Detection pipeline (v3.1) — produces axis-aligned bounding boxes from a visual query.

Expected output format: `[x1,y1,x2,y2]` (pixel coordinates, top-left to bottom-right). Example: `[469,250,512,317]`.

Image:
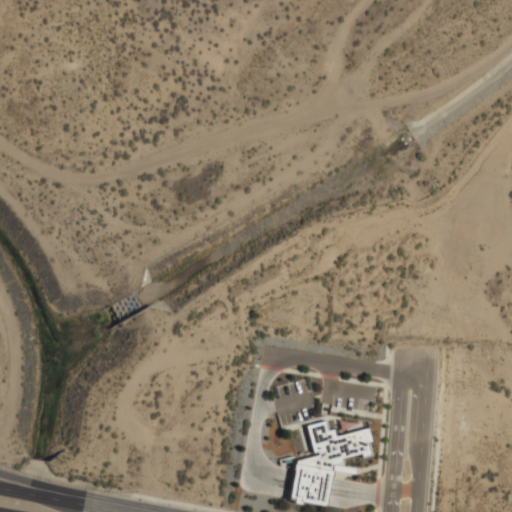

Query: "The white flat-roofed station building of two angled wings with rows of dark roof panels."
[292,420,374,506]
